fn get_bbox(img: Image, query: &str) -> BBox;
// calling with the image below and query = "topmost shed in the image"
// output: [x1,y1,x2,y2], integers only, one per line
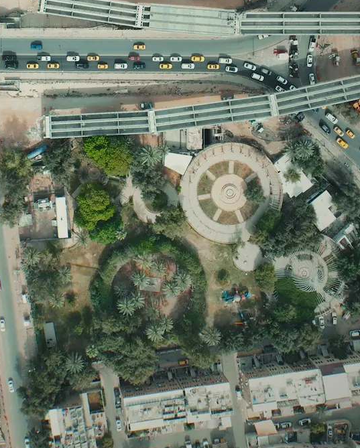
[184,128,203,150]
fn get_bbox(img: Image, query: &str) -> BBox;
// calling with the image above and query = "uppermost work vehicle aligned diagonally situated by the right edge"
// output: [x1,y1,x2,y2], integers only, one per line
[331,44,346,64]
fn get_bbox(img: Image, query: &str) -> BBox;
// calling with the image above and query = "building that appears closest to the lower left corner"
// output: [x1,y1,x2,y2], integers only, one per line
[50,396,90,448]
